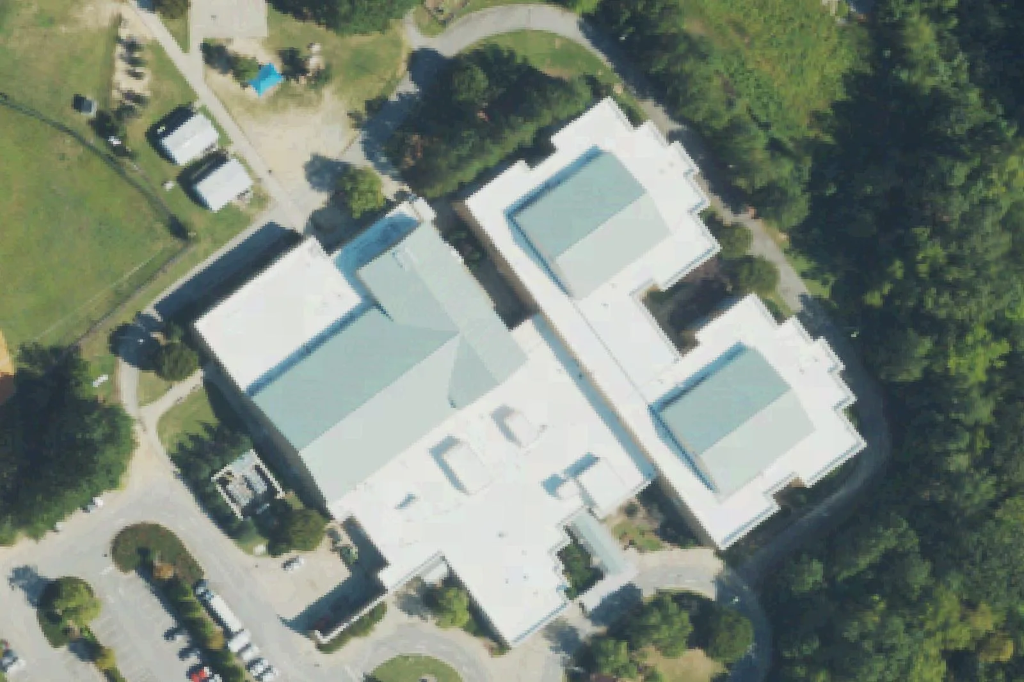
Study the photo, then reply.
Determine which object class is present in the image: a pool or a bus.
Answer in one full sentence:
I can see a bus in this picture.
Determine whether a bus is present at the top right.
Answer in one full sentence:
No, no bus is visible at the top right.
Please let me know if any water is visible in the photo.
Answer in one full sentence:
No, the picture contains no water.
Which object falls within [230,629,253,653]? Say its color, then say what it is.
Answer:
white vehicle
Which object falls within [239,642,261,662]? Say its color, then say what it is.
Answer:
white car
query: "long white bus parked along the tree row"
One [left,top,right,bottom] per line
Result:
[205,589,246,633]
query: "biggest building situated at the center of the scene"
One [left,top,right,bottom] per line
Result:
[184,94,867,646]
